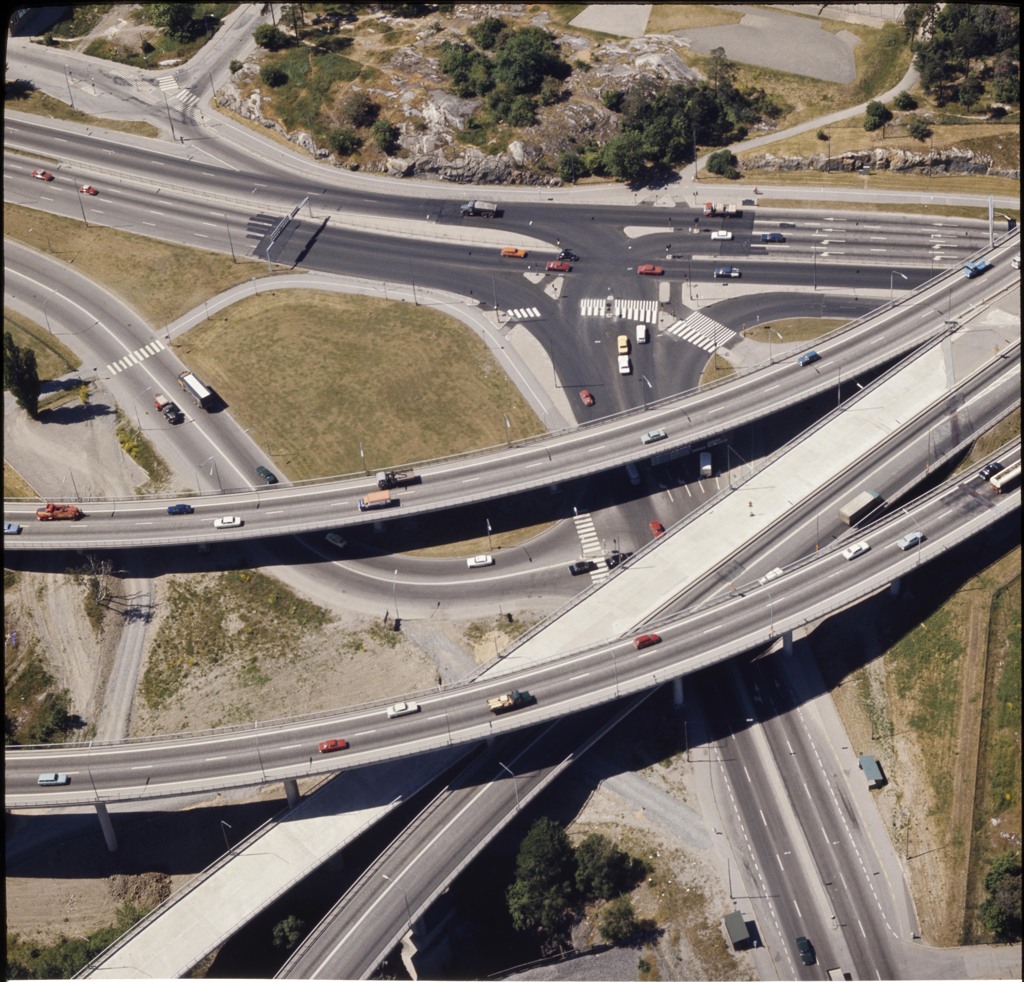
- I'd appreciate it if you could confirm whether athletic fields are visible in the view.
Yes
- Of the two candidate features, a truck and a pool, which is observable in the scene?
truck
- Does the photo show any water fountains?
No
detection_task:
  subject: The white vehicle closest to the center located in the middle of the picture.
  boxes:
[467,555,493,568]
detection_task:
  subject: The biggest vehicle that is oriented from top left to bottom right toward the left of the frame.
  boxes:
[176,367,214,403]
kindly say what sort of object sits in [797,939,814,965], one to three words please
car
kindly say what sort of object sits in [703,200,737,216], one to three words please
vehicle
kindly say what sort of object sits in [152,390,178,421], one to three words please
truck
